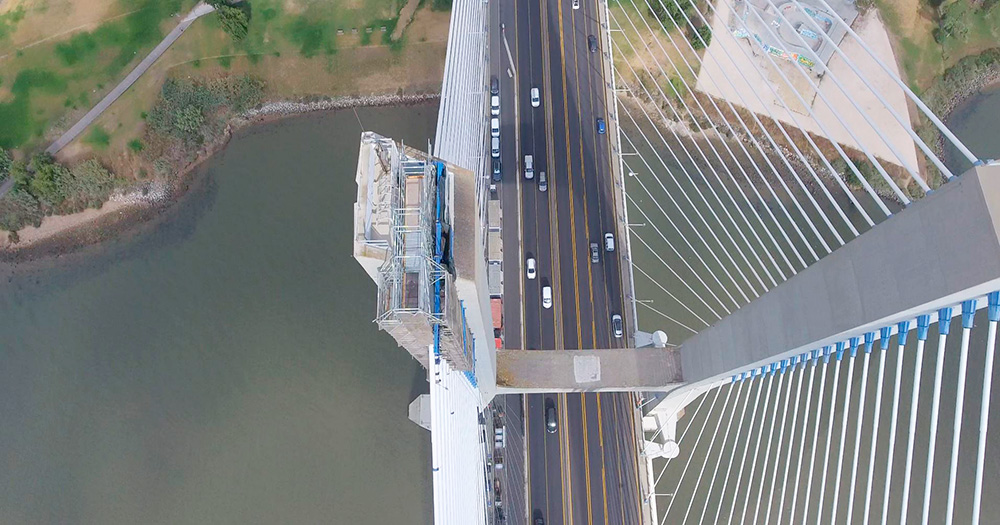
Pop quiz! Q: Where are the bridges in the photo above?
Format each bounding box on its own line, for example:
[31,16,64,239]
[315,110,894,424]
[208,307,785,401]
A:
[349,0,1000,525]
